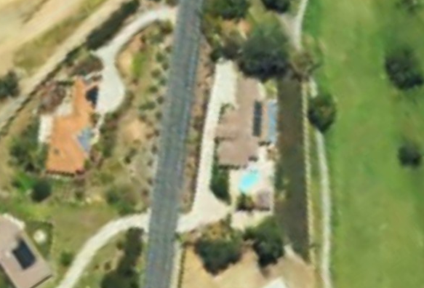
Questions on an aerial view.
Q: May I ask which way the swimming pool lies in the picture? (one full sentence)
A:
From this overhead view, the swimming pool appears to run on a diagonal.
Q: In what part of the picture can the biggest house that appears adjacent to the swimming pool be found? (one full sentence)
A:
The biggest house that appears adjacent to the swimming pool is in the center part of the image.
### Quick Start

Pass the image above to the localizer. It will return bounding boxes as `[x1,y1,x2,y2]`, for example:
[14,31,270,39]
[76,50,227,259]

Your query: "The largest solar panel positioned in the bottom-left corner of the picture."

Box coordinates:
[10,239,35,269]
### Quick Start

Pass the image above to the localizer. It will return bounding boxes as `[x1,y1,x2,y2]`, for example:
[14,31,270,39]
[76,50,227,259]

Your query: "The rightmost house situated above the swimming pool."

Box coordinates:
[216,76,277,167]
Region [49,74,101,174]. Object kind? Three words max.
house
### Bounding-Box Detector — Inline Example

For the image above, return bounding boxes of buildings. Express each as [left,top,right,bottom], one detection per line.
[257,189,271,209]
[49,74,101,174]
[216,76,277,167]
[0,215,51,288]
